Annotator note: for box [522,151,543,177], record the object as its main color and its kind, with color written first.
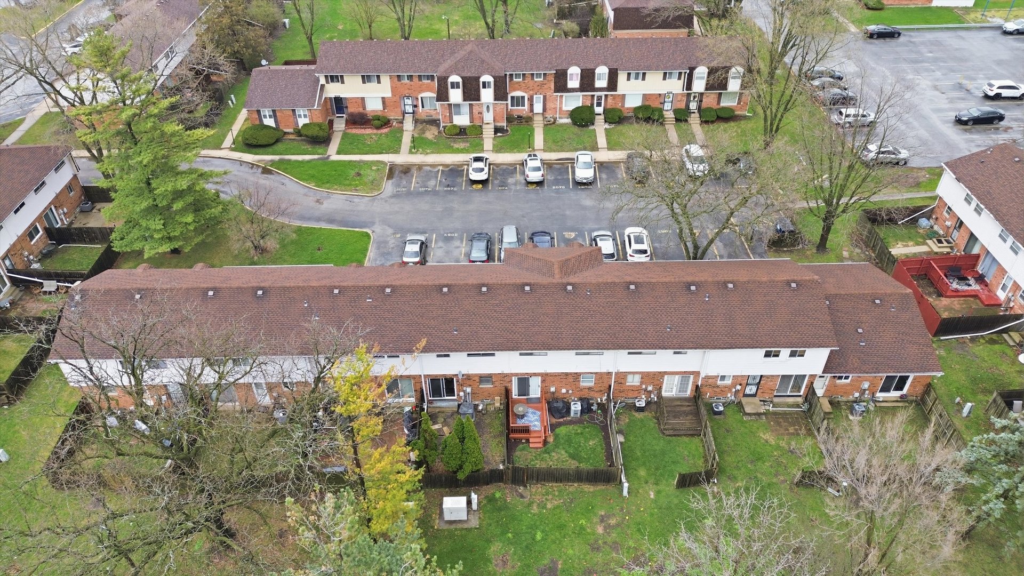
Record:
white car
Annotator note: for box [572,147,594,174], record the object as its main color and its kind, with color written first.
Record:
white car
